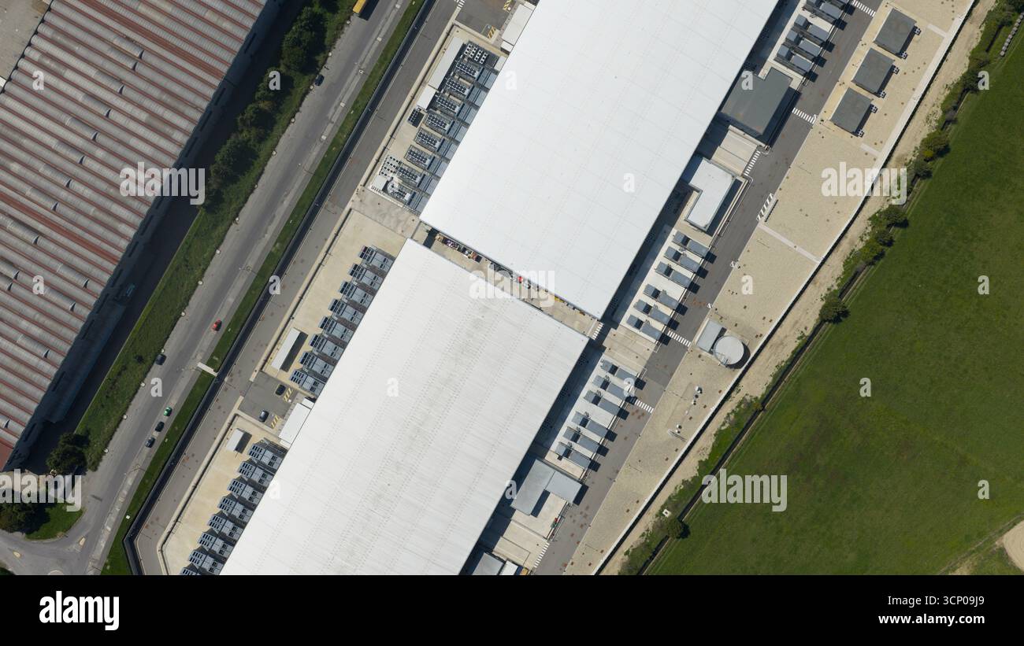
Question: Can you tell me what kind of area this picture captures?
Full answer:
The area seen from above is an industrial area.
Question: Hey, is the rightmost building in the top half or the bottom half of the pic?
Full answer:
The rightmost building is in the top half of the image.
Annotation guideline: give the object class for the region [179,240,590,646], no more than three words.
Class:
warehouse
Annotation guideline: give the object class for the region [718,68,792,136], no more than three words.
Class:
building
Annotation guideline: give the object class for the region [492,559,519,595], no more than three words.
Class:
shed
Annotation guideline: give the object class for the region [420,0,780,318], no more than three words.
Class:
warehouse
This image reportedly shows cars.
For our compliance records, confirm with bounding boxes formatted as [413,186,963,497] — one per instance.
[213,320,222,331]
[156,353,165,365]
[315,75,324,86]
[276,384,286,395]
[146,437,155,448]
[155,421,164,432]
[163,406,172,417]
[259,410,269,422]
